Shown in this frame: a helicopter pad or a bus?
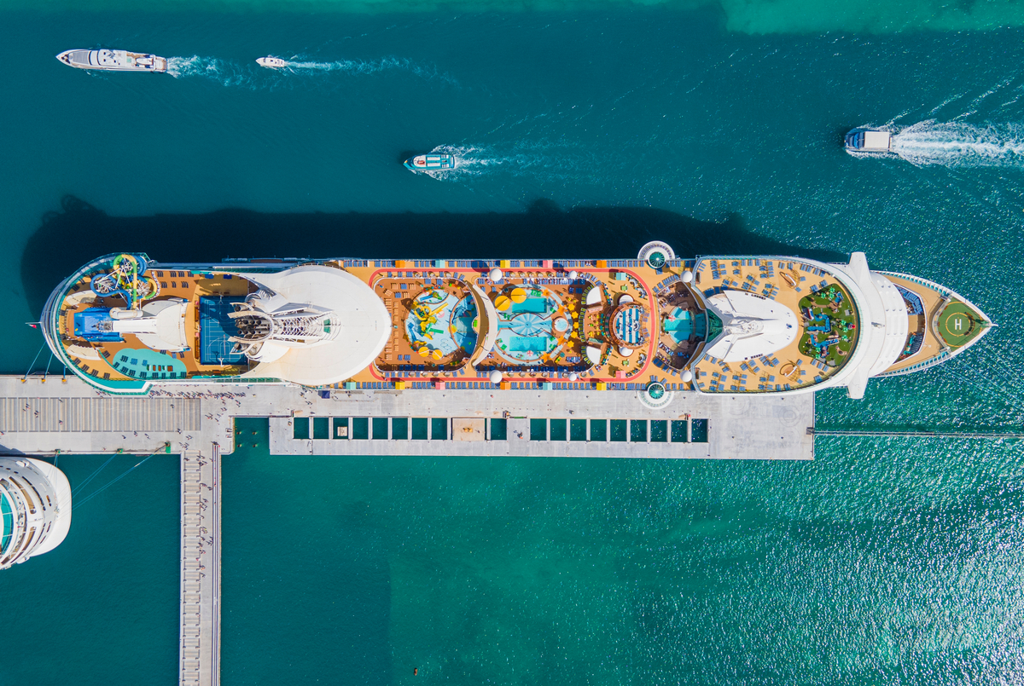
helicopter pad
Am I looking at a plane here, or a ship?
ship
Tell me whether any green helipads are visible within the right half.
Yes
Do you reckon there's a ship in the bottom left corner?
Yes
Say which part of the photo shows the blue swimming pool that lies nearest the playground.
center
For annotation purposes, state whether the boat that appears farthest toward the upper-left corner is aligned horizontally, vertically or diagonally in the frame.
horizontally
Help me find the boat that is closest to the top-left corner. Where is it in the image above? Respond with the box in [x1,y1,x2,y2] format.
[55,47,168,72]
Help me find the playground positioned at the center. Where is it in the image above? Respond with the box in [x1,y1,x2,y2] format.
[405,287,461,359]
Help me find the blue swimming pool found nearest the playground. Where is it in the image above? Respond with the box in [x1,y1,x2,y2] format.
[451,294,477,353]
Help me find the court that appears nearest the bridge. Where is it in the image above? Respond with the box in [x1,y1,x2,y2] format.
[195,295,249,365]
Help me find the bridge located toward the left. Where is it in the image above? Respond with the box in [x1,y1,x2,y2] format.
[178,447,222,686]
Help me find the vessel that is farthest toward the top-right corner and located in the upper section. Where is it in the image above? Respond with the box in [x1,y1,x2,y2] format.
[843,128,894,151]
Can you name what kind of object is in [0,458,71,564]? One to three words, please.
ship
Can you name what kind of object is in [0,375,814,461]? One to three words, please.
pier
